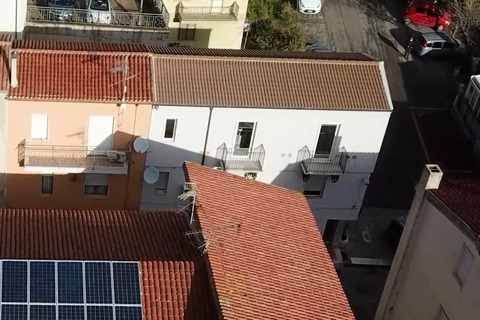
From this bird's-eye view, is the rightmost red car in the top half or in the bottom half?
top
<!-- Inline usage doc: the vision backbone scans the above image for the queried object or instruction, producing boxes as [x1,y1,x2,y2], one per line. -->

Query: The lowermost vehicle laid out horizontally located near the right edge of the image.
[413,29,475,58]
